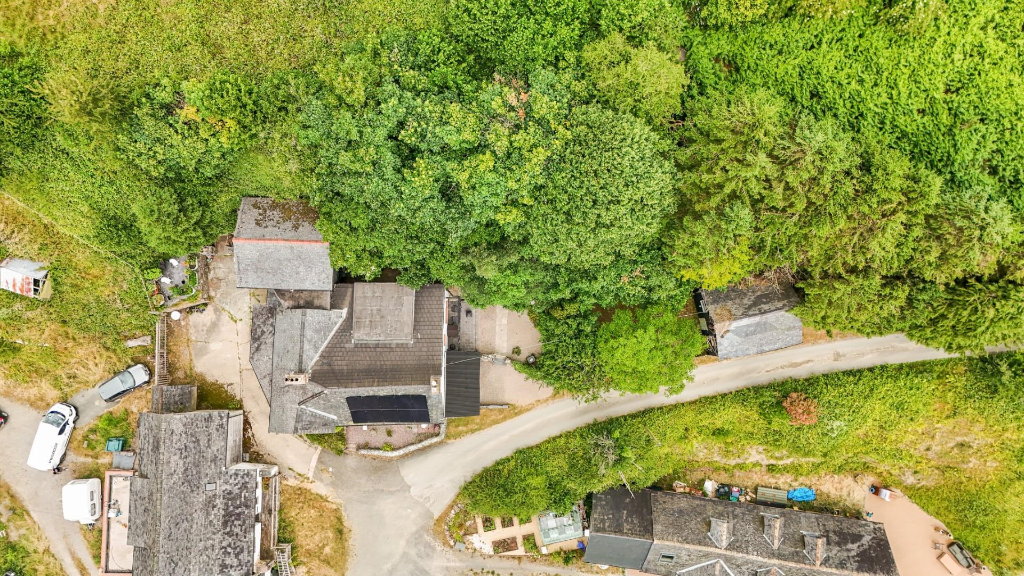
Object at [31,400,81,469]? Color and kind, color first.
white van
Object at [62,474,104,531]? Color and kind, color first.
white camper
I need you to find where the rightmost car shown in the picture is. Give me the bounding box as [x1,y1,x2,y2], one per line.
[95,360,154,406]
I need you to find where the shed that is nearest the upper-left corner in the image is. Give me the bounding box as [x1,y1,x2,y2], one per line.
[0,258,52,300]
